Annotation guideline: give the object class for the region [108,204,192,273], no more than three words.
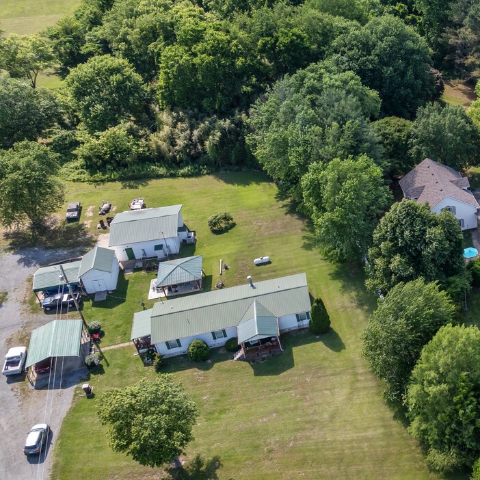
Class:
shed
